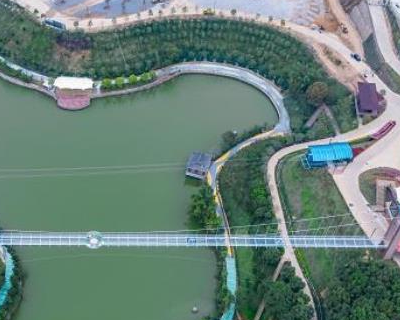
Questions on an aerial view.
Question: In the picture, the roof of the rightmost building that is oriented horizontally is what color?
blue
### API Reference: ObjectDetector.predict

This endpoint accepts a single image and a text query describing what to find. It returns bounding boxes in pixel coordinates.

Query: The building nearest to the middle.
[185,152,212,178]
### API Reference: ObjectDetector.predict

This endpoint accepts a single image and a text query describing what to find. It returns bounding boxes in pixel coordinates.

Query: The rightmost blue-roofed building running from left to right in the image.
[306,143,360,172]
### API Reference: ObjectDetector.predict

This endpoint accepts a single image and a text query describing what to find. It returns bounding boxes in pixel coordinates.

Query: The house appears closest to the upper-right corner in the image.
[355,79,381,123]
